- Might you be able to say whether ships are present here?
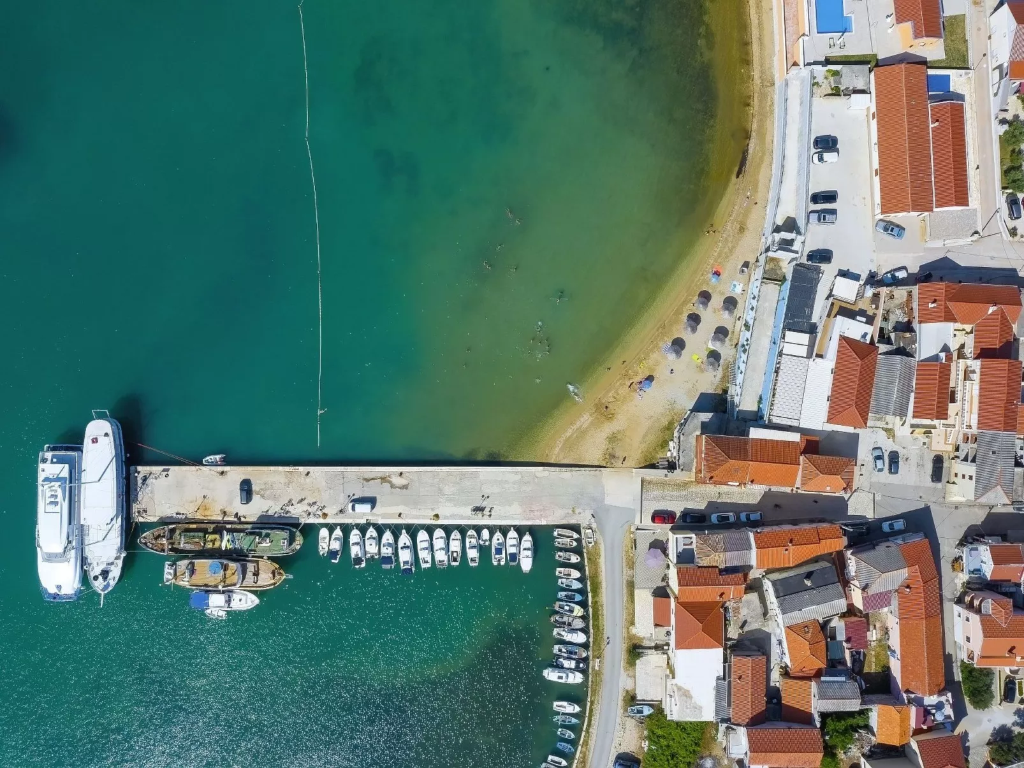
Yes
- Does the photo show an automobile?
Yes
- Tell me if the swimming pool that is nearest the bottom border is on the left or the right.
right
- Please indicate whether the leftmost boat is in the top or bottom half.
bottom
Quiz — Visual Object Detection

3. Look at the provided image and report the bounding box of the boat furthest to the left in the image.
[34,441,84,602]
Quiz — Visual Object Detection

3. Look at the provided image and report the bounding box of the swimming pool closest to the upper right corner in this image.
[927,71,953,95]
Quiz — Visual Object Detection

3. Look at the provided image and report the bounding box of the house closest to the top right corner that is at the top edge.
[985,1,1024,88]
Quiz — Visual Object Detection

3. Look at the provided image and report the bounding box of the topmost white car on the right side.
[813,152,838,165]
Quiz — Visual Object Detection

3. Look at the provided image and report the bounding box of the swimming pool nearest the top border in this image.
[814,0,857,36]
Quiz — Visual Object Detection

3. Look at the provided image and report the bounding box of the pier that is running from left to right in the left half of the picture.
[132,466,604,525]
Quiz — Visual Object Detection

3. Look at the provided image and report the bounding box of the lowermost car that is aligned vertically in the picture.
[1004,677,1016,703]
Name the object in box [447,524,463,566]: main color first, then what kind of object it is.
white boat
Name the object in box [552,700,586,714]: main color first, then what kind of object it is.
white boat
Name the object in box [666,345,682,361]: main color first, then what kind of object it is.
gray umbrella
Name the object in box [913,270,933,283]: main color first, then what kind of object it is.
black vehicle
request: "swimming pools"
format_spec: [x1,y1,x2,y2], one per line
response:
[814,0,857,36]
[927,71,953,95]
